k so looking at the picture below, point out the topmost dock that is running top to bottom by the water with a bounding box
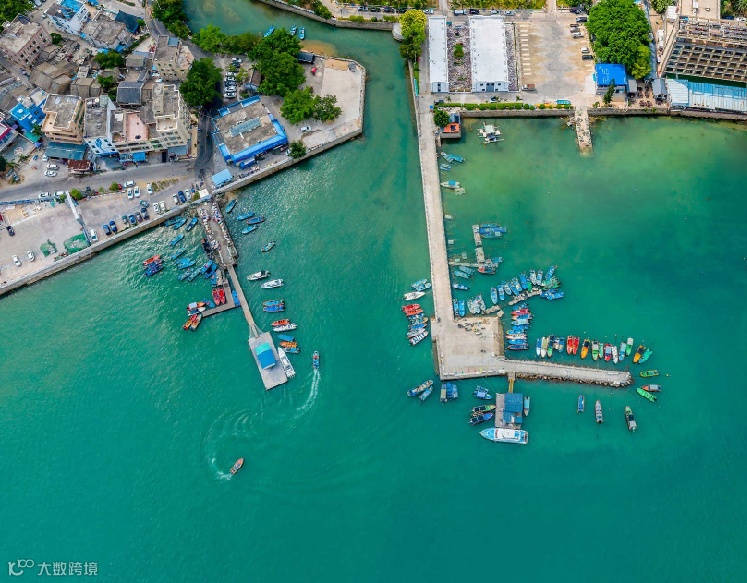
[575,112,593,157]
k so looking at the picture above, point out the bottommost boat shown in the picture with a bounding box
[229,458,244,474]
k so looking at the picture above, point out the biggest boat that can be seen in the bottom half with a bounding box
[479,428,528,446]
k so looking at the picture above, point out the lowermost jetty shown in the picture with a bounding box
[494,393,523,430]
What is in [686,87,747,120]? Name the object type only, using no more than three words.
building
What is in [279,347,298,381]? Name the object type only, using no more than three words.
vessel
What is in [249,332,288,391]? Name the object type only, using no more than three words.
pier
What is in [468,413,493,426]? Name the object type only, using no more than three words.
boat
